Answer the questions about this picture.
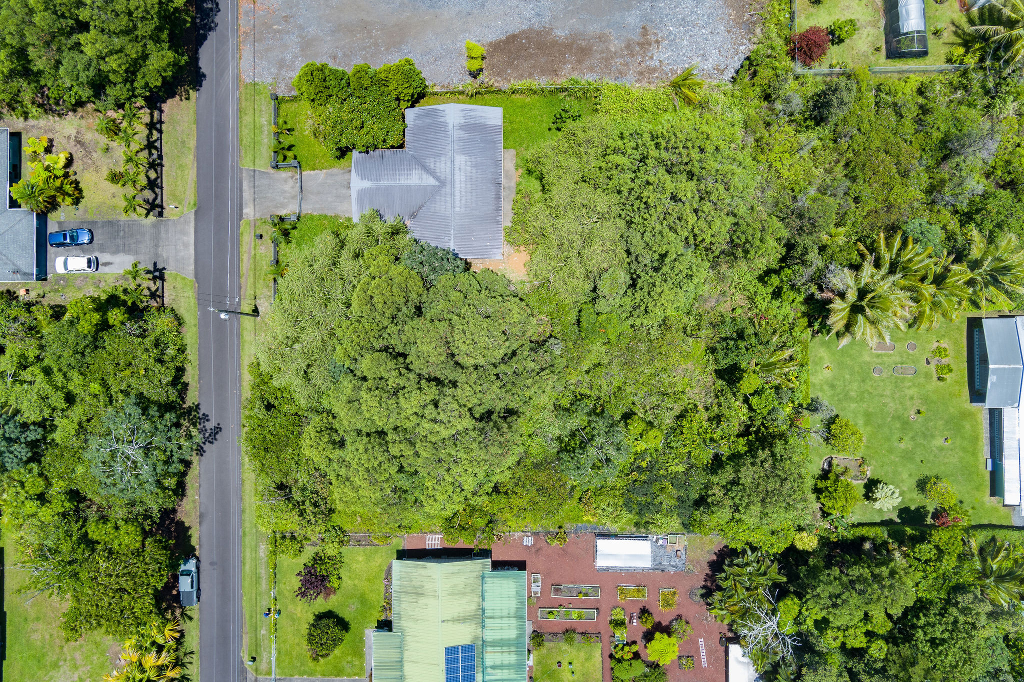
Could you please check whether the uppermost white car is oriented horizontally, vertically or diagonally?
horizontally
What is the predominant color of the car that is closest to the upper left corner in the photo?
blue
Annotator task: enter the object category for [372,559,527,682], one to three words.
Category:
house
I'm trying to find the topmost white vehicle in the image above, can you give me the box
[57,254,101,274]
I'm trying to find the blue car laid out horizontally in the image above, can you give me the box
[48,226,96,249]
